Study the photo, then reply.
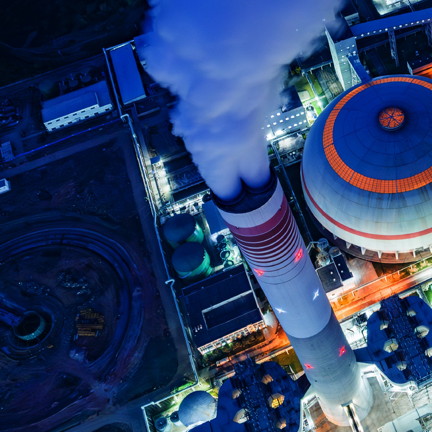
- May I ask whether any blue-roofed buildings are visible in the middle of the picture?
Yes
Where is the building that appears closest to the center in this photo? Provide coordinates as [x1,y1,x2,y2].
[202,200,230,238]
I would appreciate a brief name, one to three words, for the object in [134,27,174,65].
shed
